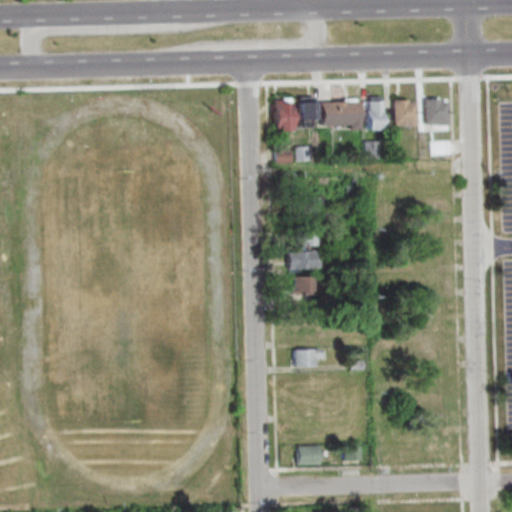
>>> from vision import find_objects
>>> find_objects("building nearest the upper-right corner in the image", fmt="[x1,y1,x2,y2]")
[423,96,450,124]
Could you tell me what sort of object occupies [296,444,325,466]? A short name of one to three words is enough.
house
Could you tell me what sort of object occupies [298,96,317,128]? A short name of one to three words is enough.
house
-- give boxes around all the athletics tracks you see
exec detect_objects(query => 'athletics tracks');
[18,90,230,496]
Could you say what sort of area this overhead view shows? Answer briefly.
sports ground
